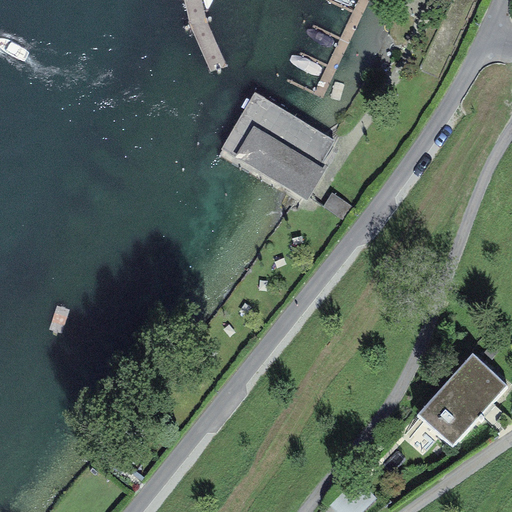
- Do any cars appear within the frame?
Yes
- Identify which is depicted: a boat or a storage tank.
boat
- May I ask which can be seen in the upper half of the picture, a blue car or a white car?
blue car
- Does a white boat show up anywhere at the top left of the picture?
Yes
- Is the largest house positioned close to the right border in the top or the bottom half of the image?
bottom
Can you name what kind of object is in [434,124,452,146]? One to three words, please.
car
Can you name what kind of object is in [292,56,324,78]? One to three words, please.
boat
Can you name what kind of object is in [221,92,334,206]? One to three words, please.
building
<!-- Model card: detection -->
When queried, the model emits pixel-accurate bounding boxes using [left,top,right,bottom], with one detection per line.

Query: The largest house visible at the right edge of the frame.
[418,354,506,446]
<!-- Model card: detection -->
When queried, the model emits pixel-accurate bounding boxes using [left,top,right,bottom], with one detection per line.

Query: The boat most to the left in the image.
[0,40,30,62]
